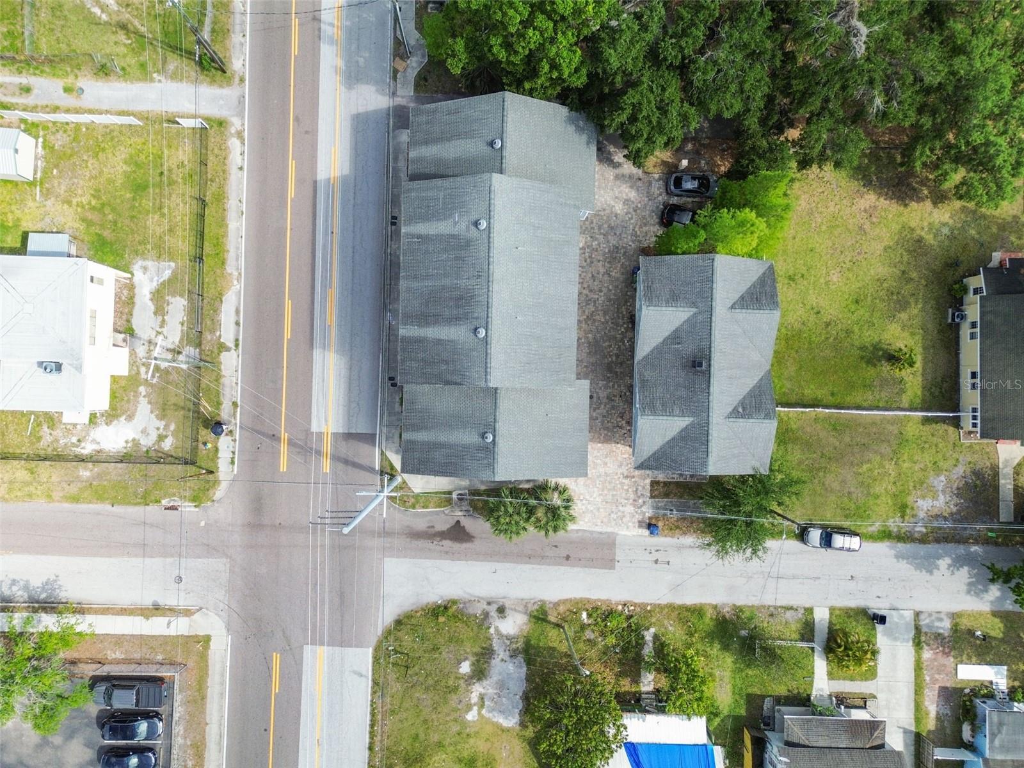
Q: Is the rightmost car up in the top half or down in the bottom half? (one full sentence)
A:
It is in the bottom half that the rightmost car appears.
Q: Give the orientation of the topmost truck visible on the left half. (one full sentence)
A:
The topmost truck visible on the left half has been laid out from left to right relative to the frame.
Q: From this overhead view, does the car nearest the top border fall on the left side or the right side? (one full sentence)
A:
The car nearest the top border sits on the right side.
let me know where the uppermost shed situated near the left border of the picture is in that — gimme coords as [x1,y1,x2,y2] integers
[0,128,36,183]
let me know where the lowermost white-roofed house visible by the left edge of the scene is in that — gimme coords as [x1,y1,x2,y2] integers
[0,256,131,422]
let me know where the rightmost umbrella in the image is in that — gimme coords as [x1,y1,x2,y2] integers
[208,422,222,436]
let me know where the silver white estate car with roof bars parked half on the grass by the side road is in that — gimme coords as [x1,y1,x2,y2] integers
[800,524,859,552]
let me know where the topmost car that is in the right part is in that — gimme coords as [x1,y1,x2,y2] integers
[661,174,715,201]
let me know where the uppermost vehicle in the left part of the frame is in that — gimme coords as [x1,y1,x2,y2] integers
[101,675,174,707]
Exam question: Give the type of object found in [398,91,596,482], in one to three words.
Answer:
building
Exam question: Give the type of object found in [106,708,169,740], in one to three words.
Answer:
car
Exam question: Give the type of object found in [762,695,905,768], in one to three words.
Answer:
house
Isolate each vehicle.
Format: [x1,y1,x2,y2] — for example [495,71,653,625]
[658,204,706,234]
[800,524,859,552]
[101,675,174,707]
[106,745,164,768]
[661,174,715,201]
[106,708,169,740]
